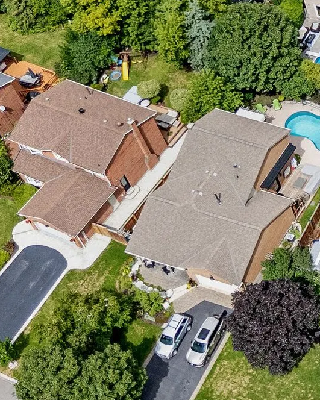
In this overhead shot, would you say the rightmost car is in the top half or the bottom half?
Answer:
bottom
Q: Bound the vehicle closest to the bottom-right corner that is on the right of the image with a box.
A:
[188,313,225,365]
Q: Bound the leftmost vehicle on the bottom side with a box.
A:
[154,315,192,360]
